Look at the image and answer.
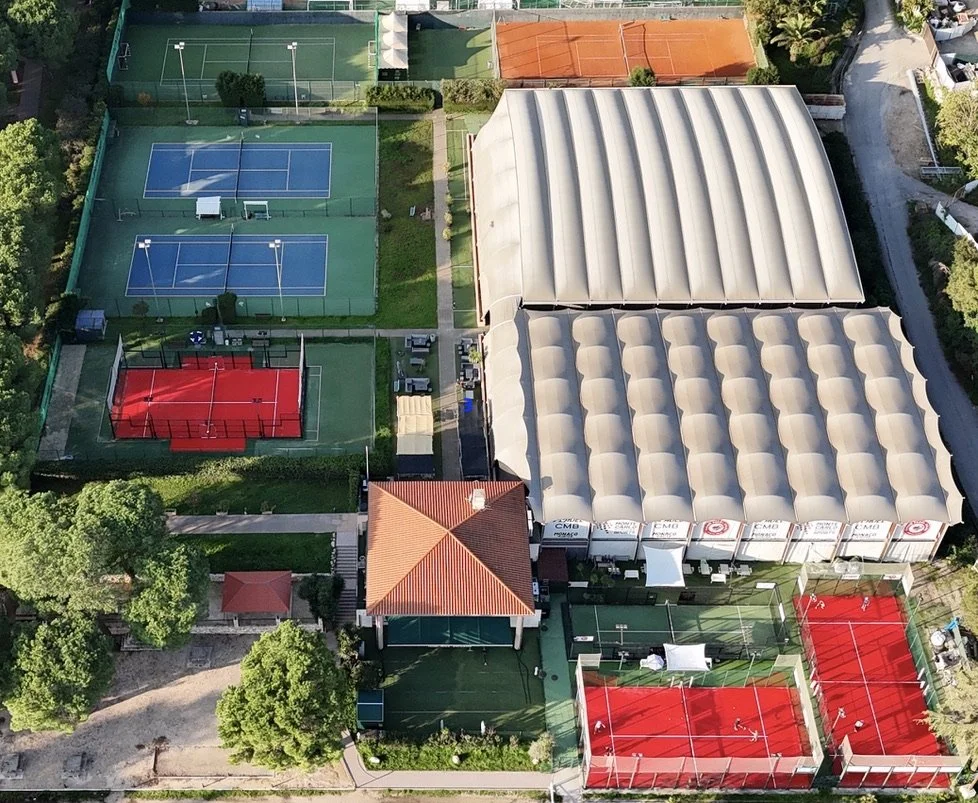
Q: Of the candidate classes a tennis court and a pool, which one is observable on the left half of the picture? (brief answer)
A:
tennis court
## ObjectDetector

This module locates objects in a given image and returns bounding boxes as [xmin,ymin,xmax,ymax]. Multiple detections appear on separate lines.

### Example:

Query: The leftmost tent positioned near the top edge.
[381,1,414,79]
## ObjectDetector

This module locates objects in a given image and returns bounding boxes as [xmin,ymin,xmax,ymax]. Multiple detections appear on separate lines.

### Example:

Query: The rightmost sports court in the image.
[796,564,972,797]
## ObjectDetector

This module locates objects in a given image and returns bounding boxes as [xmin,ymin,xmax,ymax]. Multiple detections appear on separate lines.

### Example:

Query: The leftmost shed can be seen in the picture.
[73,312,108,340]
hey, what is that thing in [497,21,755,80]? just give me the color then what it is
orange tennis court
